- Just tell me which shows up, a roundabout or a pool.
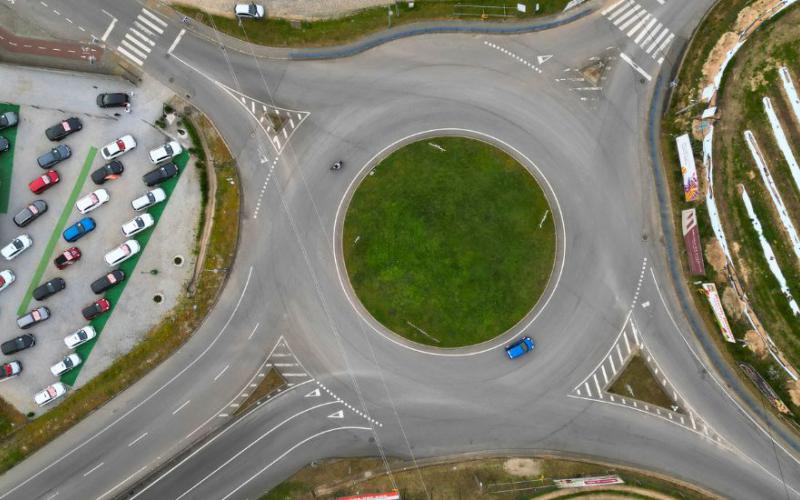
roundabout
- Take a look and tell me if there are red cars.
Yes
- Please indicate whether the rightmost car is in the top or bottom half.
bottom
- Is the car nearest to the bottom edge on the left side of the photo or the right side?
left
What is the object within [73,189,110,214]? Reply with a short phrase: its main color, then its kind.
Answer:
white car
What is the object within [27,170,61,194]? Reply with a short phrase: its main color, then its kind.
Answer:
red car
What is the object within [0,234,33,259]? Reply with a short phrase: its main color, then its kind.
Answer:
white car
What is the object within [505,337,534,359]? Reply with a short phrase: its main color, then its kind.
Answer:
blue car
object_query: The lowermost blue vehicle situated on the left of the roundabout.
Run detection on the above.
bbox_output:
[59,217,97,242]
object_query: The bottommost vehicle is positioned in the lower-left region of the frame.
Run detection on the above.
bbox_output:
[30,382,68,409]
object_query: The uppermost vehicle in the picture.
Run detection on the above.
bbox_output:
[234,2,266,20]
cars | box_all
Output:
[0,362,23,381]
[505,337,534,359]
[48,353,83,378]
[121,213,155,237]
[73,189,110,214]
[100,135,138,159]
[132,188,166,211]
[27,170,61,194]
[95,91,131,109]
[0,109,21,129]
[147,141,184,164]
[62,326,96,351]
[141,162,179,188]
[35,144,73,170]
[16,306,51,329]
[103,240,140,266]
[90,161,124,184]
[29,277,67,302]
[10,200,48,225]
[234,2,266,20]
[52,248,84,270]
[45,119,83,141]
[30,382,68,409]
[59,217,97,242]
[0,234,33,259]
[79,298,112,322]
[0,270,16,291]
[88,270,126,295]
[0,334,38,356]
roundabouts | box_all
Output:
[257,50,641,434]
